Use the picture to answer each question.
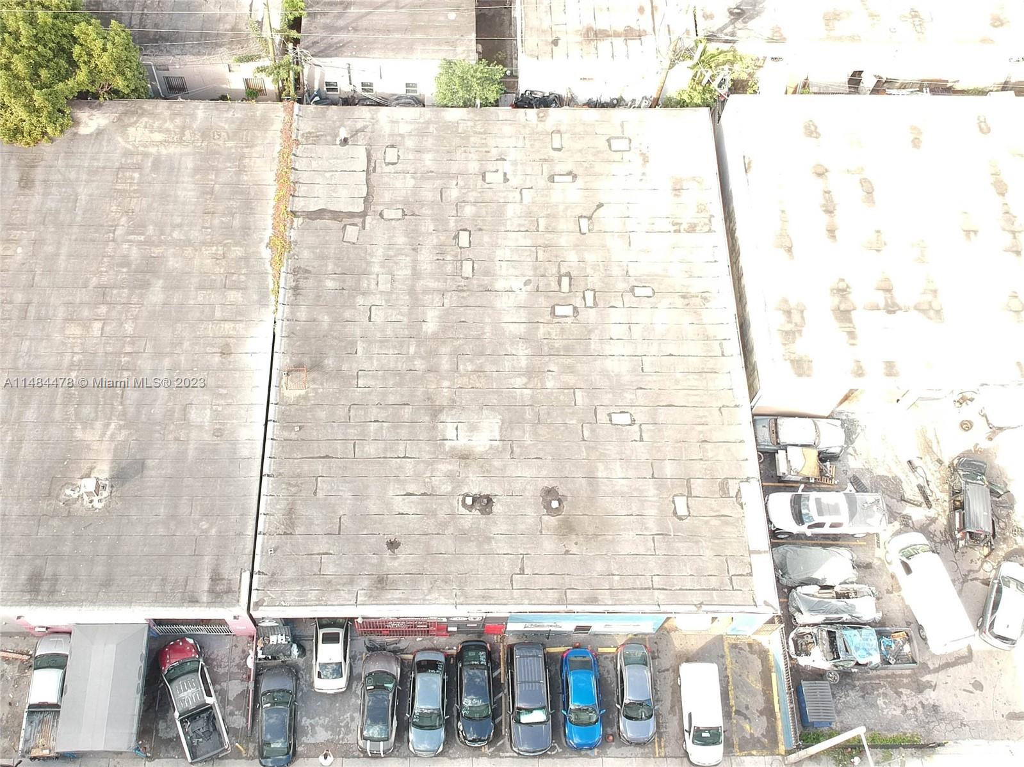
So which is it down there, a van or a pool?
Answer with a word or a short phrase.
van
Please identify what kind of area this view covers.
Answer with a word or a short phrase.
industrial area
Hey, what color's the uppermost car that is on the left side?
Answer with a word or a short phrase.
white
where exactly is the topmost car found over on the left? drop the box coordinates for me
[309,622,352,694]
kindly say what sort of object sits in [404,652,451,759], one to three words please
car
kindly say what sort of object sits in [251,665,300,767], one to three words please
car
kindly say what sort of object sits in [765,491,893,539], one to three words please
truck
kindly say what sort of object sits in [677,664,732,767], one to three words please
van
